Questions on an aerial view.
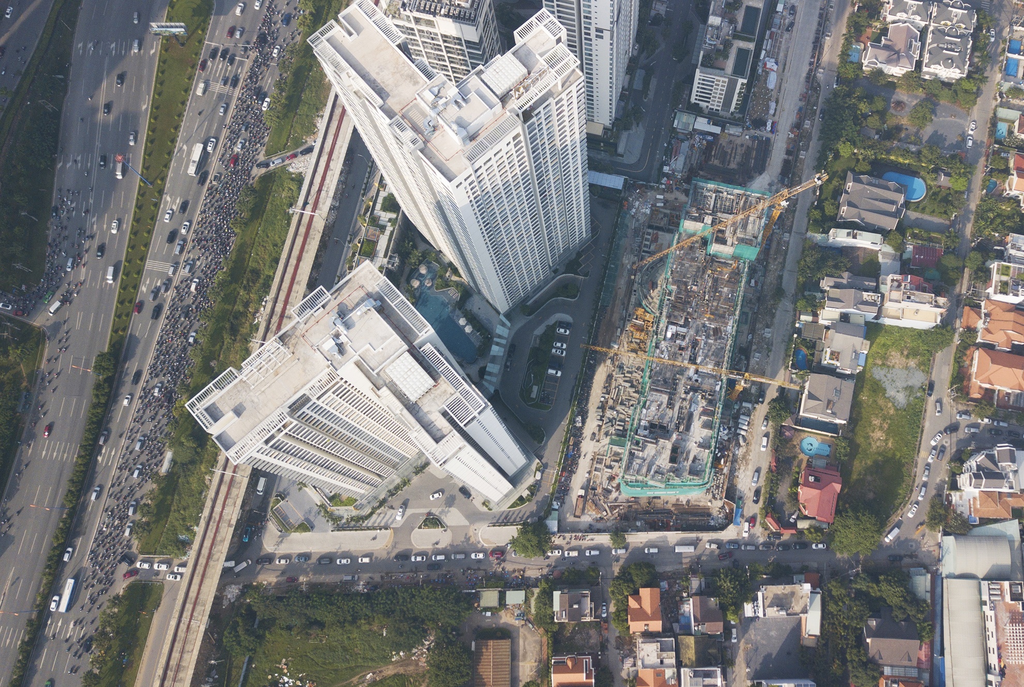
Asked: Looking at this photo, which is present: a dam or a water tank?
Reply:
water tank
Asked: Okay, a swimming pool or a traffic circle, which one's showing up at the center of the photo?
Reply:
swimming pool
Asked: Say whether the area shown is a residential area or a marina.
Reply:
residential area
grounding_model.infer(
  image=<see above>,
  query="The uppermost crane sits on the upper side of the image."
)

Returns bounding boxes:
[633,172,829,282]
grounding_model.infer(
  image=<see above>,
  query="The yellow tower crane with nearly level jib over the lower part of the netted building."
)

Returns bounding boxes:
[581,344,804,412]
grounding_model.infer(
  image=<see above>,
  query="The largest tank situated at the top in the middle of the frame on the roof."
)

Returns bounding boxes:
[480,48,531,97]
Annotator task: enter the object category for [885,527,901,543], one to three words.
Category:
vehicle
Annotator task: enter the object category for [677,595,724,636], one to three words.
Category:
house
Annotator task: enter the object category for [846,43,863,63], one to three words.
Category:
swimming pool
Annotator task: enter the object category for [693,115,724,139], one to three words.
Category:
shed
